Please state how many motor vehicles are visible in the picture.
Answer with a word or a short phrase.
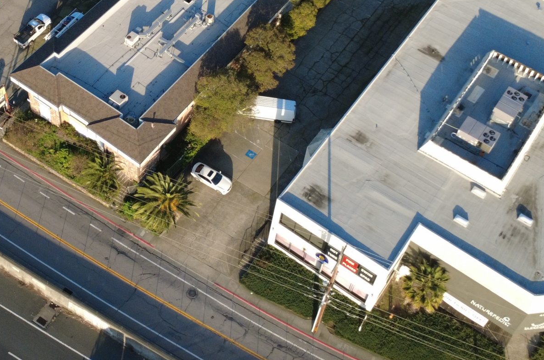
four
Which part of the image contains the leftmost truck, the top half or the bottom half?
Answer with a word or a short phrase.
top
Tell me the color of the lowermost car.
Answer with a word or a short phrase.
white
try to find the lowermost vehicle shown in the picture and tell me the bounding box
[191,162,232,196]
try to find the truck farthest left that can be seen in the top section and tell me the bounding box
[16,14,48,49]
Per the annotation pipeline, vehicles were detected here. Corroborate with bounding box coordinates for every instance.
[45,7,84,40]
[16,14,48,49]
[191,162,232,196]
[254,94,300,124]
